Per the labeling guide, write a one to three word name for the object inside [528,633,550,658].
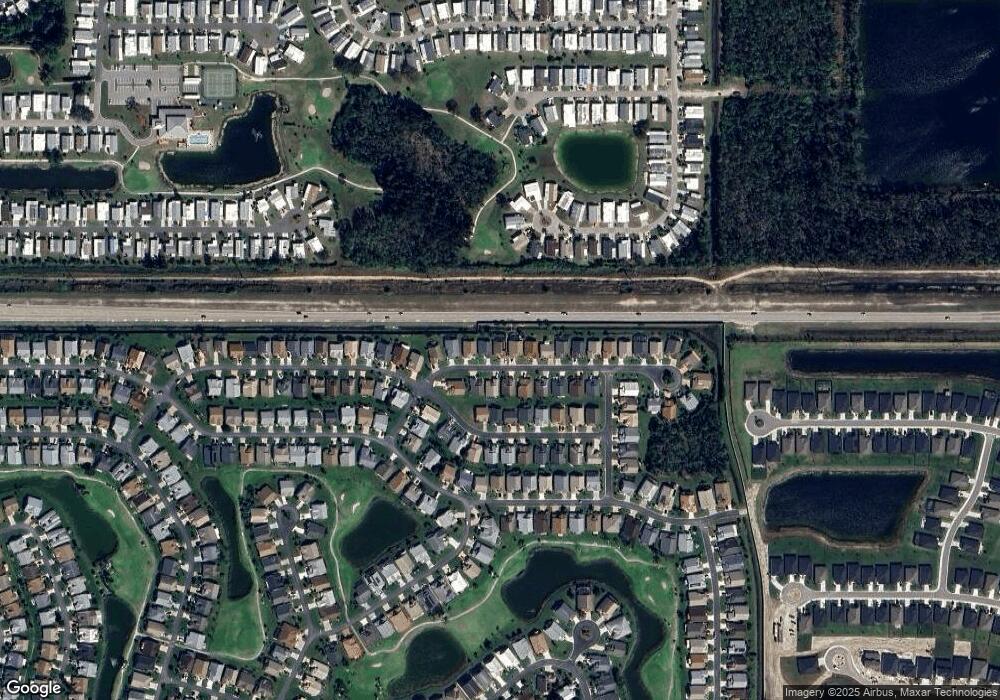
house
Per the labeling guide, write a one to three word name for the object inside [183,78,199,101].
building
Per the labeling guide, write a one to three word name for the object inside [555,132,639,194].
pond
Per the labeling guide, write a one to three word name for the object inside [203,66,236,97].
tennis court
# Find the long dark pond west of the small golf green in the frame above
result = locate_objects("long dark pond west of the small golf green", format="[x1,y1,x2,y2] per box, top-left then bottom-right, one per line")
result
[0,163,118,192]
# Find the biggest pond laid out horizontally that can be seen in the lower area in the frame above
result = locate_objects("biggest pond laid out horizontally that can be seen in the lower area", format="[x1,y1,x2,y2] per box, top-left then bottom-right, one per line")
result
[764,471,927,542]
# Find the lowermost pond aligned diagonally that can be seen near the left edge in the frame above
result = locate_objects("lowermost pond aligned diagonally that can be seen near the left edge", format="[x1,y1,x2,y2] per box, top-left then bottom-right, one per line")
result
[0,474,118,560]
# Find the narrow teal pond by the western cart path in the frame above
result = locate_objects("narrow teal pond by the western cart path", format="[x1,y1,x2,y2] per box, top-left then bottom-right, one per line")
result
[94,594,138,700]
